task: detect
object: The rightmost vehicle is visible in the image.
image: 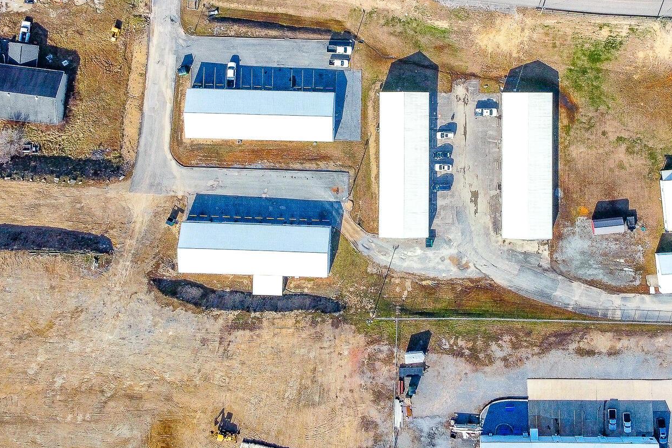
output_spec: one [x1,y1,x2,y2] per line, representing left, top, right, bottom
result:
[656,416,668,442]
